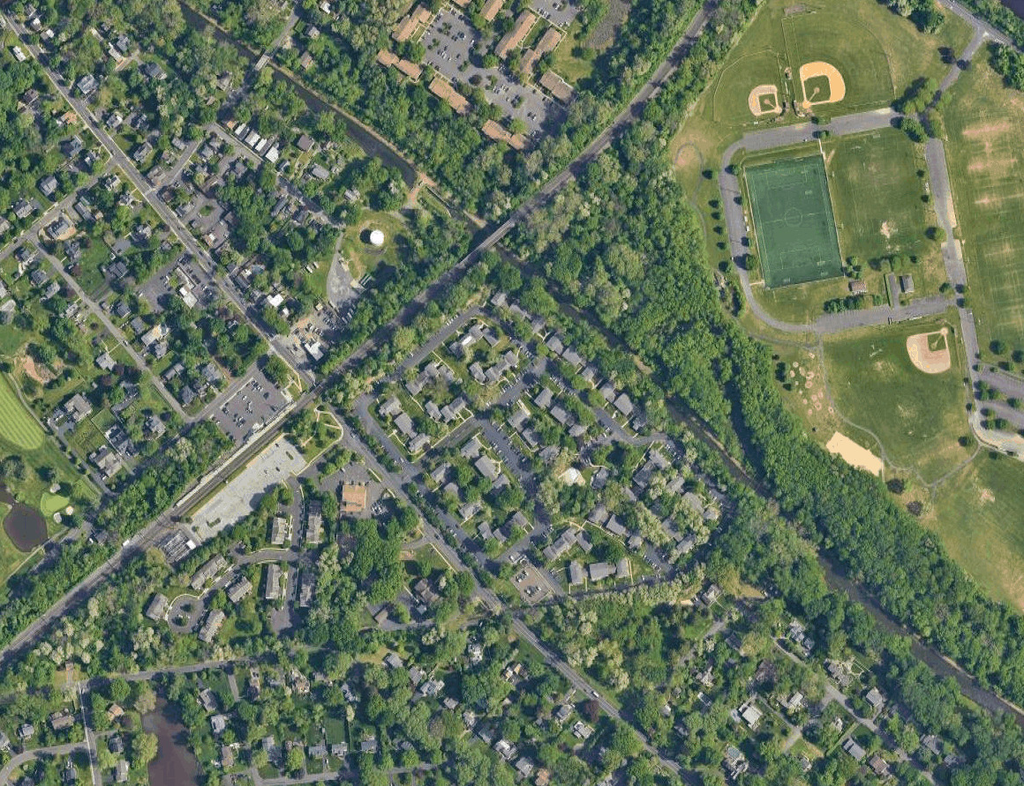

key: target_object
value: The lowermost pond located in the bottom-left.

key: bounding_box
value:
[142,704,201,786]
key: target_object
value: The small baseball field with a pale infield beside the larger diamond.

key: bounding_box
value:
[712,50,782,121]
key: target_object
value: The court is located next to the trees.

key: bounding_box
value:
[827,432,882,476]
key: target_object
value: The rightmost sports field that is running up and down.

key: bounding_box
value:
[956,92,1024,347]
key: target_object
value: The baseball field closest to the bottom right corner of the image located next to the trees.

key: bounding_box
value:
[823,327,954,460]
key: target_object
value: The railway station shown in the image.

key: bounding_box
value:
[175,401,295,505]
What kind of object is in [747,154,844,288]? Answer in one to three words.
soccer field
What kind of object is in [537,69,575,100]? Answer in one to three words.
building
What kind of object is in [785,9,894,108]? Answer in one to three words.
baseball field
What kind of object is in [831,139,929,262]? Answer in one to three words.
sports field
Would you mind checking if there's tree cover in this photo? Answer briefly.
Yes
